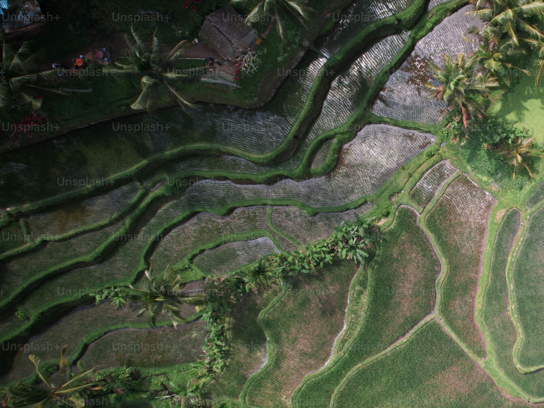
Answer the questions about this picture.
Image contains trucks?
No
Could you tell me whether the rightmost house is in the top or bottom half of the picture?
top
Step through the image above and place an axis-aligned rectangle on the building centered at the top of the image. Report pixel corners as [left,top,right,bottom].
[196,0,267,70]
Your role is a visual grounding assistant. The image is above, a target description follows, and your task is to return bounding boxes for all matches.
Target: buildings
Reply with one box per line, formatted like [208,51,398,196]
[196,0,267,70]
[4,0,57,42]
